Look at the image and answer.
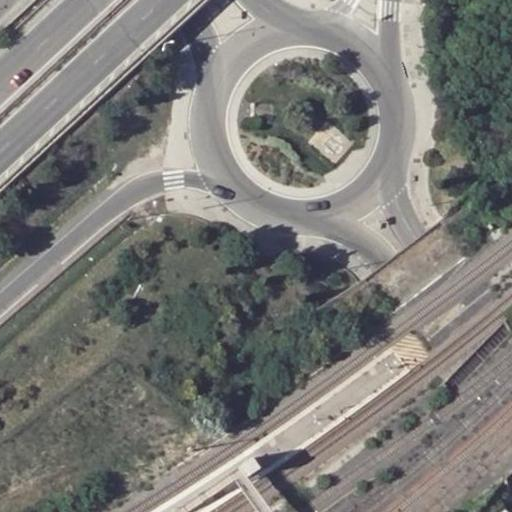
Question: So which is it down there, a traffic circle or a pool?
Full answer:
I can see a traffic circle in this picture.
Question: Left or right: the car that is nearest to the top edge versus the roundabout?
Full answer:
It is on the left side of the roundabout that the car that is nearest to the top edge is positioned.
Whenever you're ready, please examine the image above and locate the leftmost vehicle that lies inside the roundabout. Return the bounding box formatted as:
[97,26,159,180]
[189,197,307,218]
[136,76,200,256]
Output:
[211,186,234,199]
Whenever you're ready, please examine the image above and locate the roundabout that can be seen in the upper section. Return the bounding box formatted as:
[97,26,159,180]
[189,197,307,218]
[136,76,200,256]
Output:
[190,4,415,240]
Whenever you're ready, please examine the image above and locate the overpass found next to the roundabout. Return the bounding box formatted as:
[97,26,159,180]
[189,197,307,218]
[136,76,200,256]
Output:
[100,0,208,54]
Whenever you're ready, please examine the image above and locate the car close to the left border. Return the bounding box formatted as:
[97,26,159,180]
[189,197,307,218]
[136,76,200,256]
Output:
[11,66,32,86]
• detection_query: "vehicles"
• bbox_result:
[11,66,32,86]
[306,200,328,211]
[211,186,234,199]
